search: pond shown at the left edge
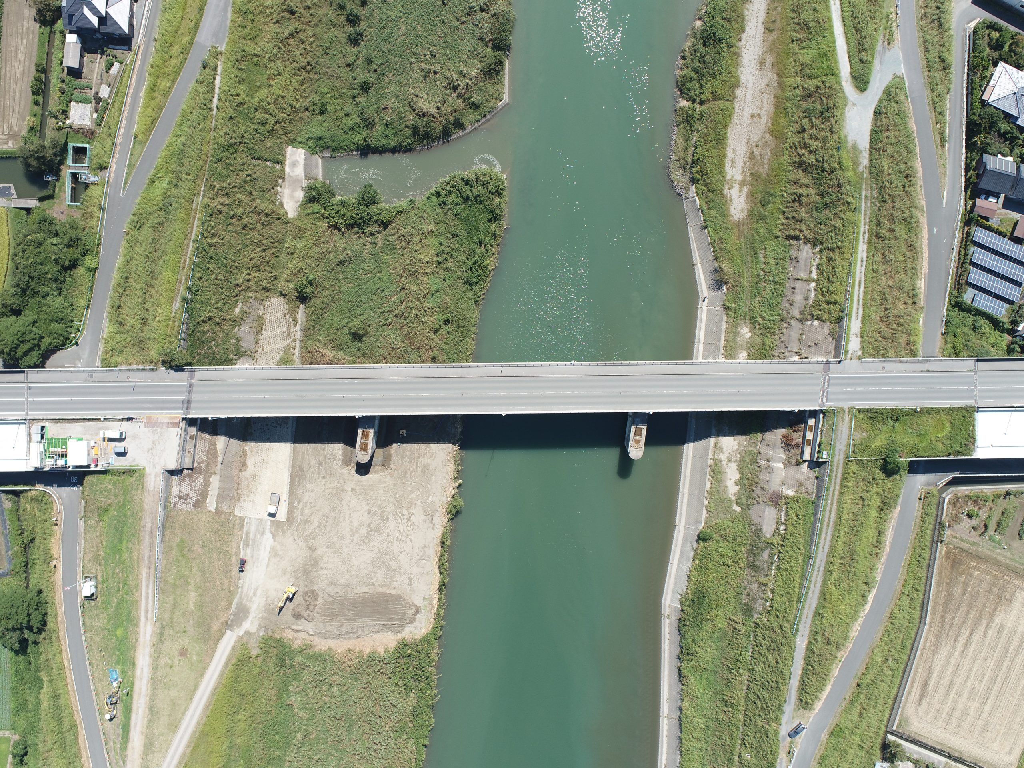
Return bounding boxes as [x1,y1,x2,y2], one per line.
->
[0,156,59,200]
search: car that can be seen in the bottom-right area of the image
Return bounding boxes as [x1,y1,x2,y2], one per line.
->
[788,724,807,741]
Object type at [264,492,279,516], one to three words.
vehicle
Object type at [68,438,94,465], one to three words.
shed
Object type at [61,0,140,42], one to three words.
house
